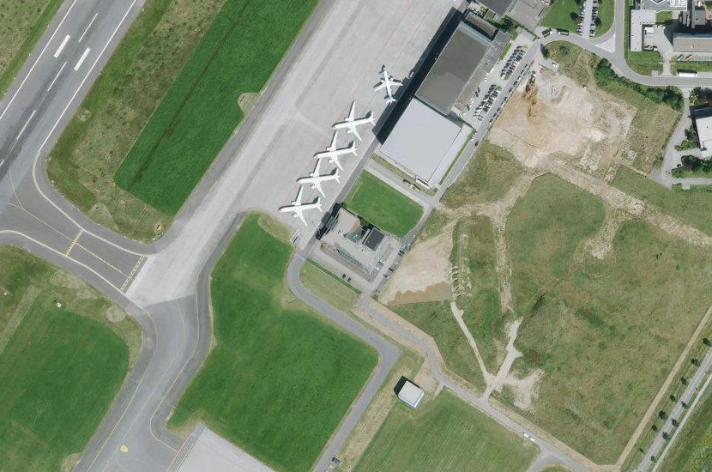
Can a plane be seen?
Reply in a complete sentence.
Yes, you can see a plane in this photo.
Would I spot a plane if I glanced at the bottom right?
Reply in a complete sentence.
No, no plane appears at the bottom right.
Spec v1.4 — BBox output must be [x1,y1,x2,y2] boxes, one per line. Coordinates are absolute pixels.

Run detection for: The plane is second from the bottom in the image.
[297,158,340,197]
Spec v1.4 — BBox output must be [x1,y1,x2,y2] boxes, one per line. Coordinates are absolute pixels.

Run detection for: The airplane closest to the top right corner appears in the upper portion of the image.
[374,68,403,102]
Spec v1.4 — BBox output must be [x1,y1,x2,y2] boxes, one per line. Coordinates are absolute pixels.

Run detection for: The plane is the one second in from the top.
[333,102,376,142]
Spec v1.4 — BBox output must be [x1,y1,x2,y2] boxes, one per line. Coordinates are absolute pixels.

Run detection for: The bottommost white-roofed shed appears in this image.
[398,380,425,408]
